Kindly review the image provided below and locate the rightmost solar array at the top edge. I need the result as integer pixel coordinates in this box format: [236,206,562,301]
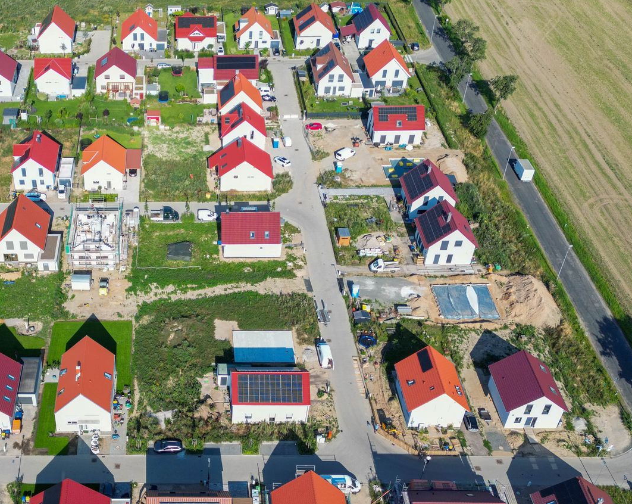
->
[355,7,374,31]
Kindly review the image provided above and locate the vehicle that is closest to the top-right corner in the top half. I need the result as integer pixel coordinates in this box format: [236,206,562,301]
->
[517,157,536,179]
